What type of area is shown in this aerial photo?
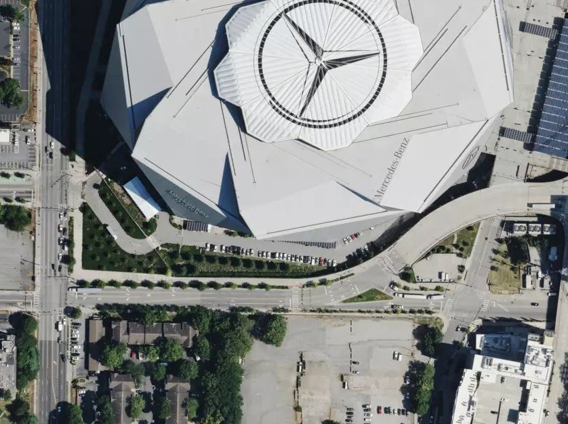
sports ground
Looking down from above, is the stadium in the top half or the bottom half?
top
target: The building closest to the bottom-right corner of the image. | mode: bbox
[517,382,548,424]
